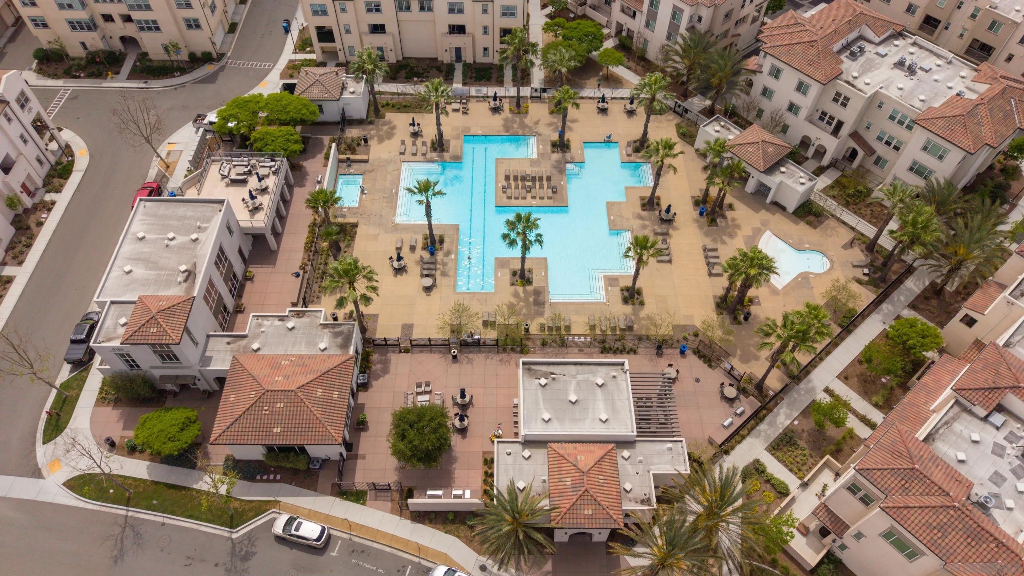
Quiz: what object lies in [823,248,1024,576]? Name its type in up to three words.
building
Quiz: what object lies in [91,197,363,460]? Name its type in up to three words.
building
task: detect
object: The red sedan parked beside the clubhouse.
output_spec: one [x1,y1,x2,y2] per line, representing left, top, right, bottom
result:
[125,180,155,212]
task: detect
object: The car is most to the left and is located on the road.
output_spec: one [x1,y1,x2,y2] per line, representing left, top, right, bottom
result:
[57,313,98,366]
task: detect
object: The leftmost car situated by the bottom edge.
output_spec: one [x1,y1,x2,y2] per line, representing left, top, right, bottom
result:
[269,516,329,552]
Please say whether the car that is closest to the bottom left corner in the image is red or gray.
gray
